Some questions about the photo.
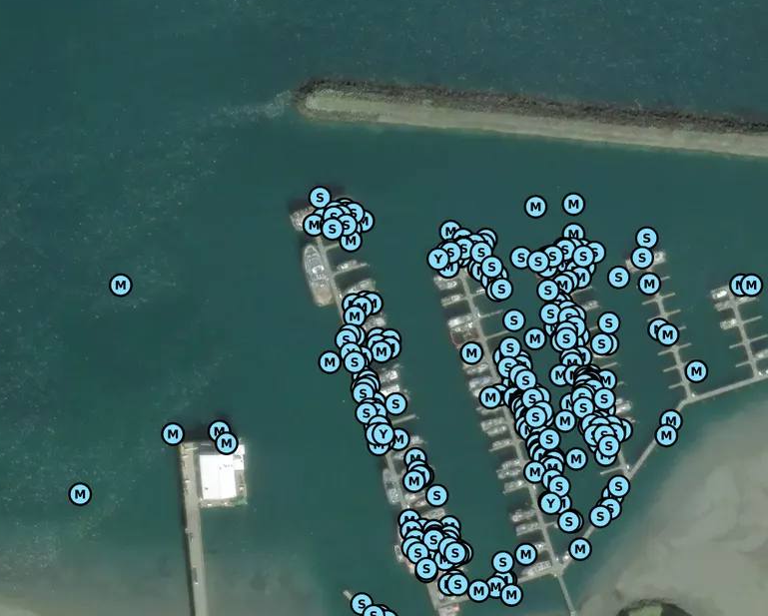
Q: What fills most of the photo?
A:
water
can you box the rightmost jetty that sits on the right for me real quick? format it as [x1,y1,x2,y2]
[709,288,768,379]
